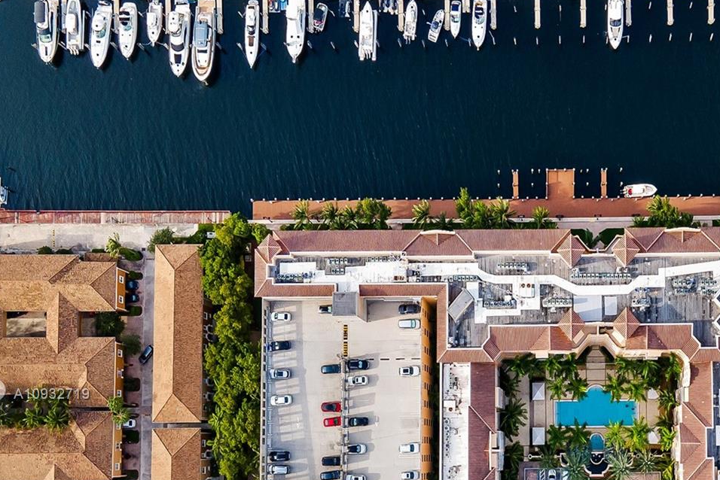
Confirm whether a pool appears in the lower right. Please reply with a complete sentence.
Yes, a pool shows up in the lower right.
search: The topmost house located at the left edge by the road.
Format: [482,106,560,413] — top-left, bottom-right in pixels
[0,254,131,407]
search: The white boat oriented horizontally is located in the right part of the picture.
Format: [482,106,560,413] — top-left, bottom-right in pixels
[622,185,656,198]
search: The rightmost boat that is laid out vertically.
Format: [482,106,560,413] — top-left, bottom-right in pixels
[607,0,624,51]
